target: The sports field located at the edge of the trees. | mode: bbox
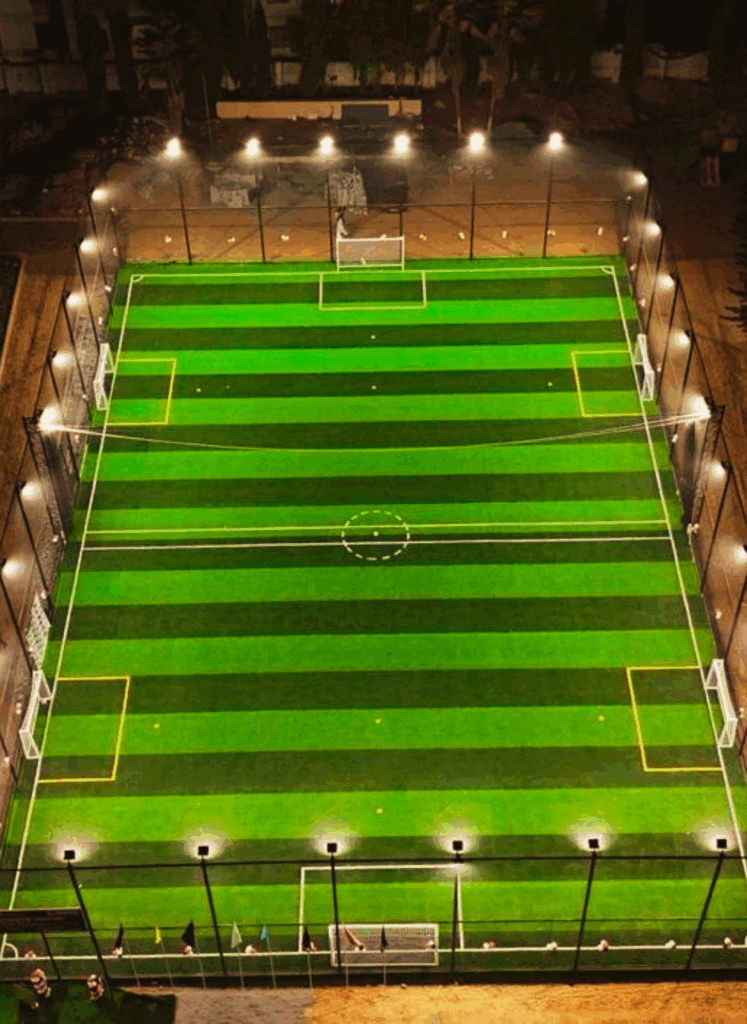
[0,255,747,979]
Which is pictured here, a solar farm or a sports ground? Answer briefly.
sports ground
